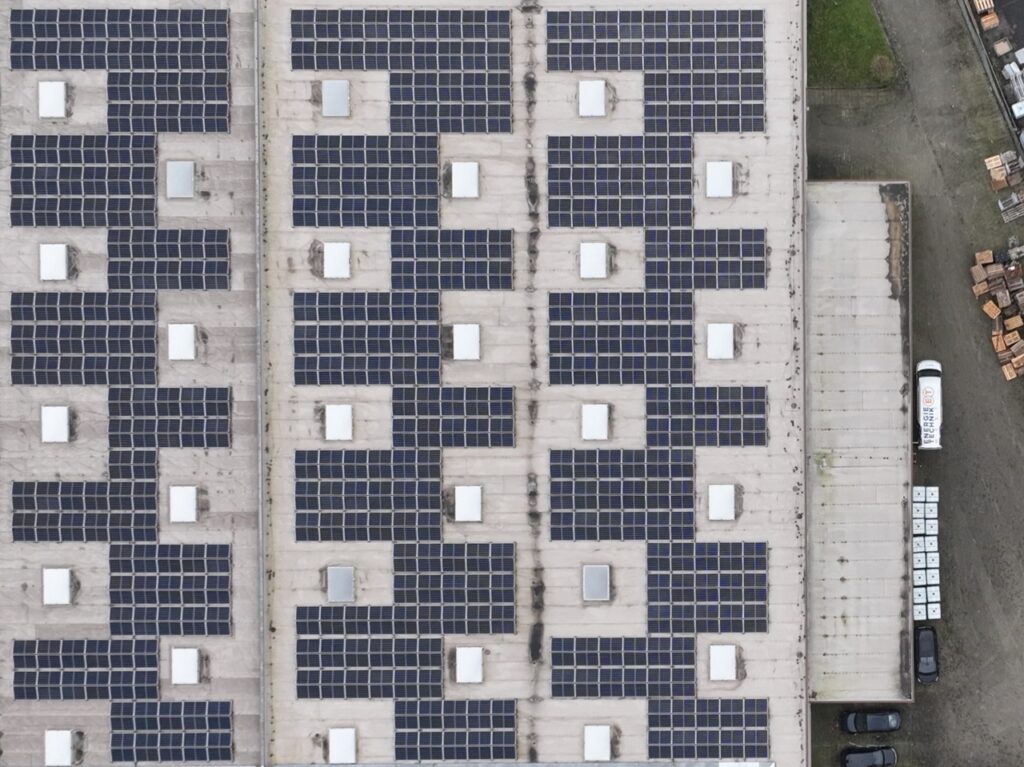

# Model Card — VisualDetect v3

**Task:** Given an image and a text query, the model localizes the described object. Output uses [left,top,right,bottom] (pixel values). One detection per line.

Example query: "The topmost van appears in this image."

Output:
[914,359,944,451]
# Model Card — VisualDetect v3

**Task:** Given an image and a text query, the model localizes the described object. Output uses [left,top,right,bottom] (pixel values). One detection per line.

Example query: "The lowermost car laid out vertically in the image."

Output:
[914,625,941,684]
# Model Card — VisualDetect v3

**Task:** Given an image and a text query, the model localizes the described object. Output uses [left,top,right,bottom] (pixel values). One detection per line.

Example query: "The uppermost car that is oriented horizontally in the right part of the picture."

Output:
[841,709,902,736]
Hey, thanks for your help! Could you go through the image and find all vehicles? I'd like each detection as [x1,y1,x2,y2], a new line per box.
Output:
[841,745,898,767]
[841,709,902,736]
[914,625,941,684]
[914,359,944,451]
